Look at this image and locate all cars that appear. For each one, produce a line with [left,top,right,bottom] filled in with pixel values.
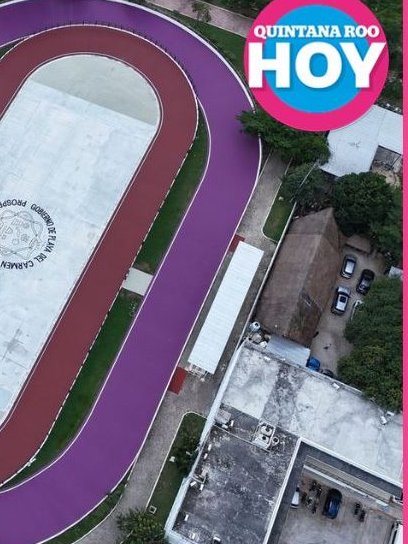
[322,369,336,381]
[330,288,349,316]
[324,487,344,521]
[355,270,374,295]
[288,483,307,511]
[306,357,317,371]
[339,255,358,281]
